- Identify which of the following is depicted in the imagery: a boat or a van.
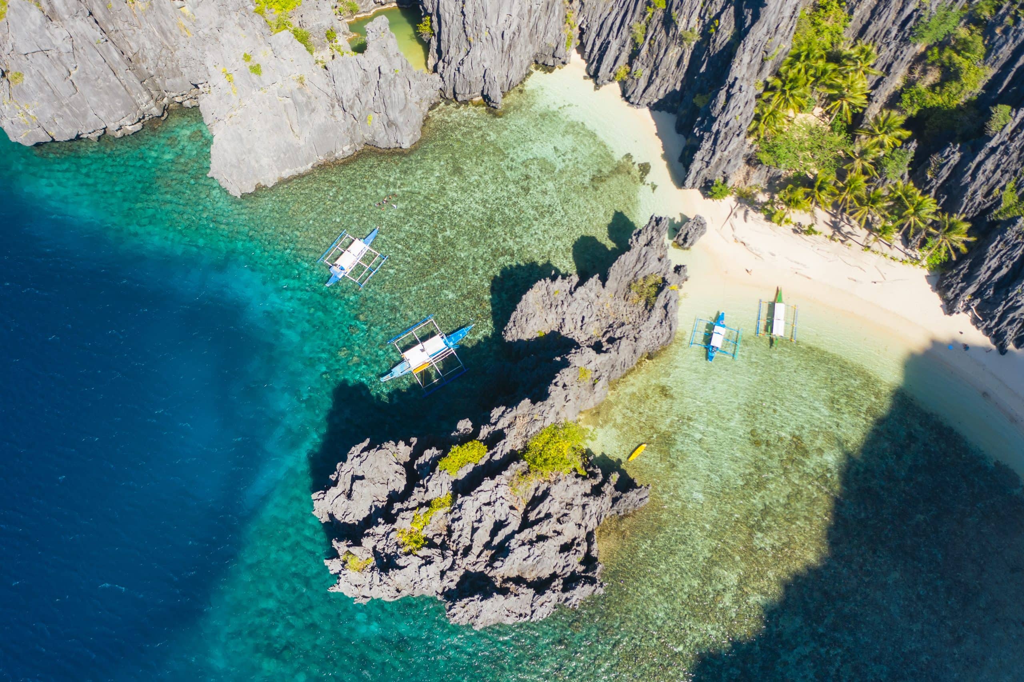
boat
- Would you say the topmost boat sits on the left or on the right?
left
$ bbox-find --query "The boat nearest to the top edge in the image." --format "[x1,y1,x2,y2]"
[315,223,393,286]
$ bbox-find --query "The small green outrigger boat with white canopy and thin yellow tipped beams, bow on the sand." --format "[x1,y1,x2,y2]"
[752,284,800,348]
